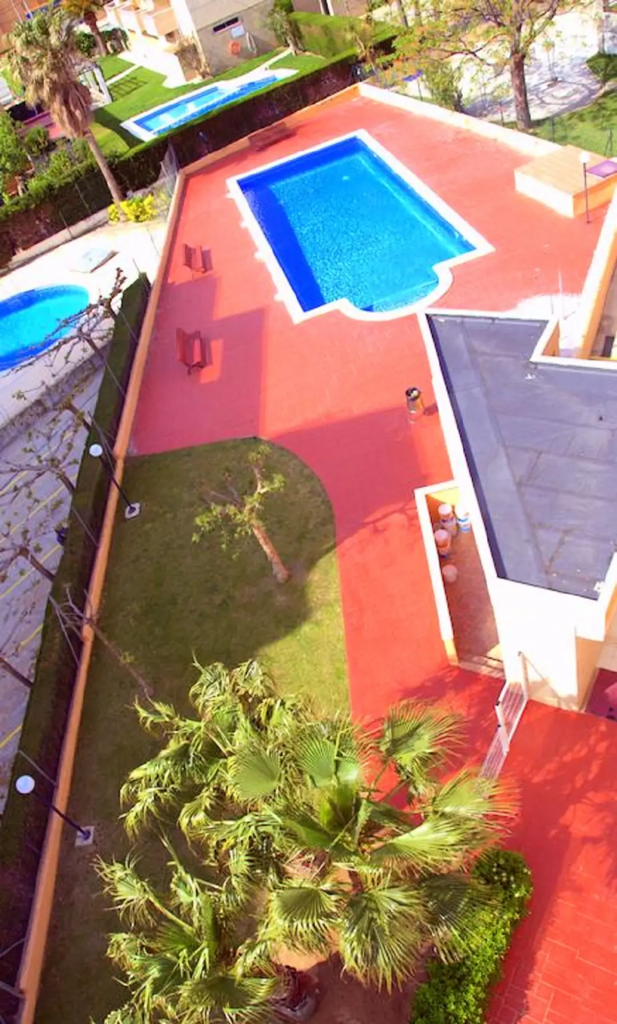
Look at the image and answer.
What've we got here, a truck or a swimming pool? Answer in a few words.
swimming pool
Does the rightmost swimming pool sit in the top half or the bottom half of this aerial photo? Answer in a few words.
top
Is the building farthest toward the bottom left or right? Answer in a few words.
right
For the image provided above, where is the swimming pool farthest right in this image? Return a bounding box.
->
[227,130,494,323]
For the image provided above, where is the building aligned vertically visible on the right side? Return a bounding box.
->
[417,312,617,708]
